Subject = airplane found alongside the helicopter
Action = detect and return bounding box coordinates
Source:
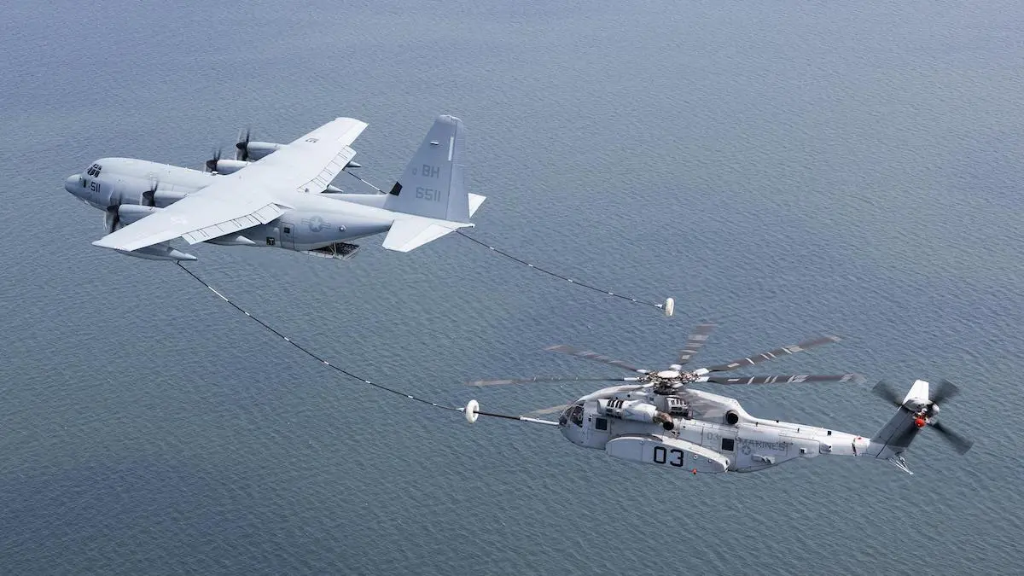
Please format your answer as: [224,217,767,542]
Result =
[64,117,485,264]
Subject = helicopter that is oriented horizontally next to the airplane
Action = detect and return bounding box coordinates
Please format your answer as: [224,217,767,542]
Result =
[471,326,974,475]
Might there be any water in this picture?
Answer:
Yes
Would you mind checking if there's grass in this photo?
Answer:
No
